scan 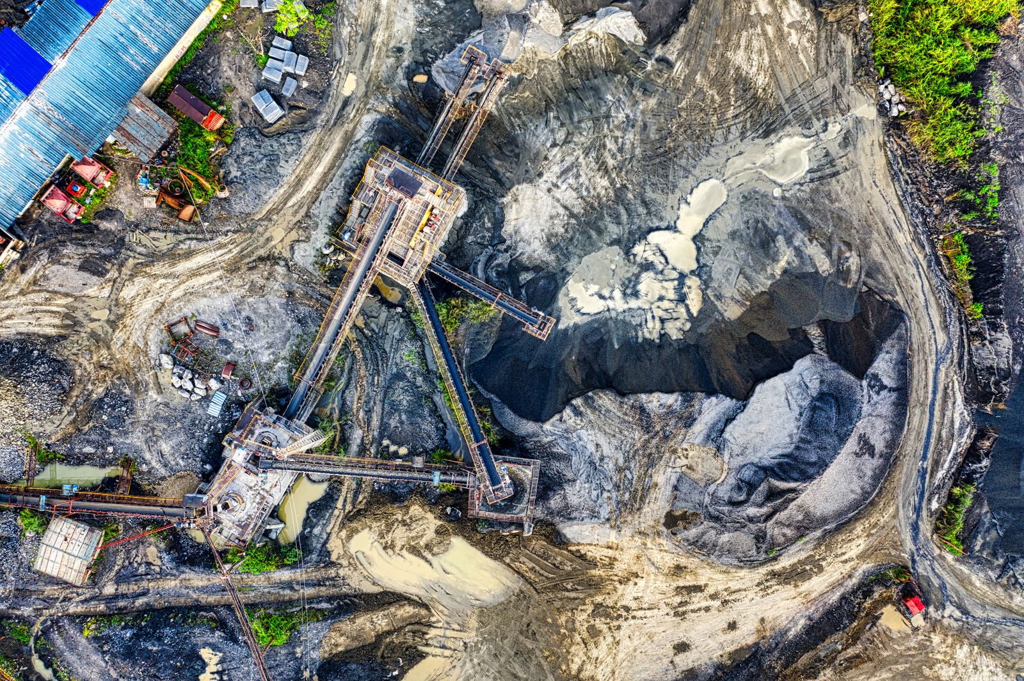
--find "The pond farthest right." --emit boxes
[278,475,329,547]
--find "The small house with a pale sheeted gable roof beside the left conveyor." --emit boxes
[34,517,112,587]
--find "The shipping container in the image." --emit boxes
[167,84,231,135]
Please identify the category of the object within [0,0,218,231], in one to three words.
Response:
warehouse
